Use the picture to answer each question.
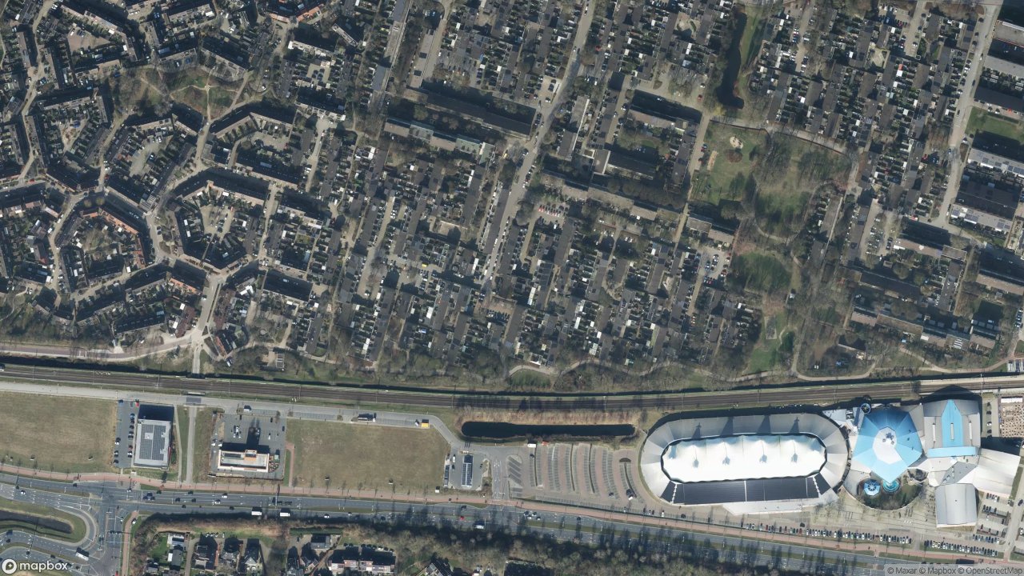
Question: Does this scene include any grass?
Yes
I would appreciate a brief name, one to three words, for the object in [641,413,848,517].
building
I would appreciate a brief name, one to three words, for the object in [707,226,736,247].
building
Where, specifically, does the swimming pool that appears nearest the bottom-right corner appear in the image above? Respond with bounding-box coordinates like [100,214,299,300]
[882,479,900,493]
